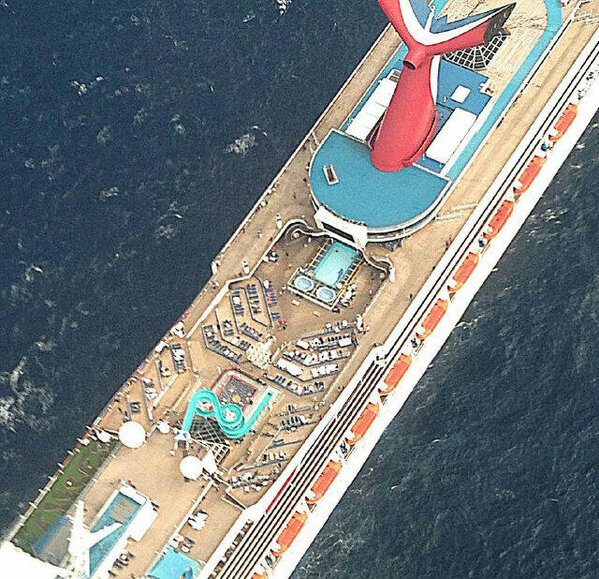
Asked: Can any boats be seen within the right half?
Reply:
Yes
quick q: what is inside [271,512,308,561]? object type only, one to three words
boat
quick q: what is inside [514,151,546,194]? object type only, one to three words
boat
